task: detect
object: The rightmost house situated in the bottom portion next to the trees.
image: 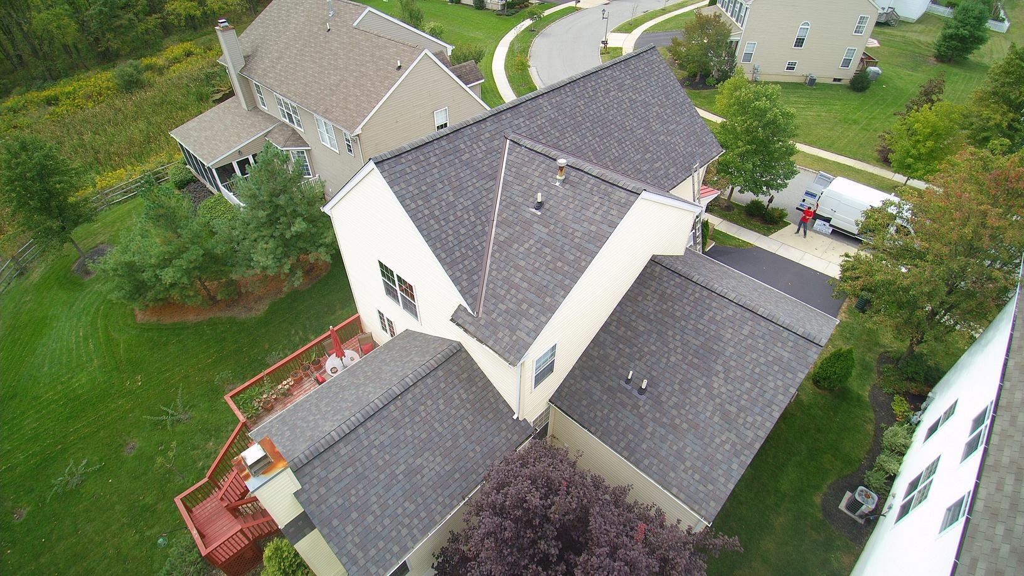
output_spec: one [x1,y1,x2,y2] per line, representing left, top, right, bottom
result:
[856,253,1024,576]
